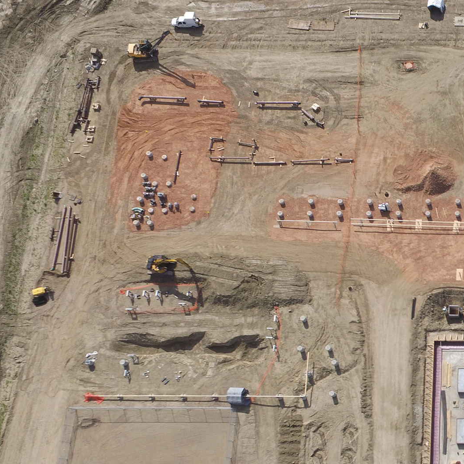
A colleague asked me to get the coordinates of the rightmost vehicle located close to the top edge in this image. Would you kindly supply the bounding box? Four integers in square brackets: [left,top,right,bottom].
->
[171,14,204,31]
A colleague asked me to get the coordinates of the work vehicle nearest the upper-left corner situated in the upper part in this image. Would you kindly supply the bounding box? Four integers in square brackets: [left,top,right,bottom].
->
[126,24,174,62]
